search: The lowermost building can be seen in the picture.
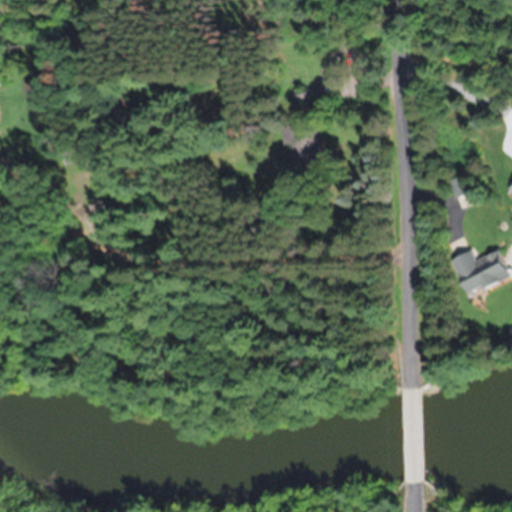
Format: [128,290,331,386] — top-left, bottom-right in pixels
[451,249,510,298]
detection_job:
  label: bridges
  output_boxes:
[400,386,437,502]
